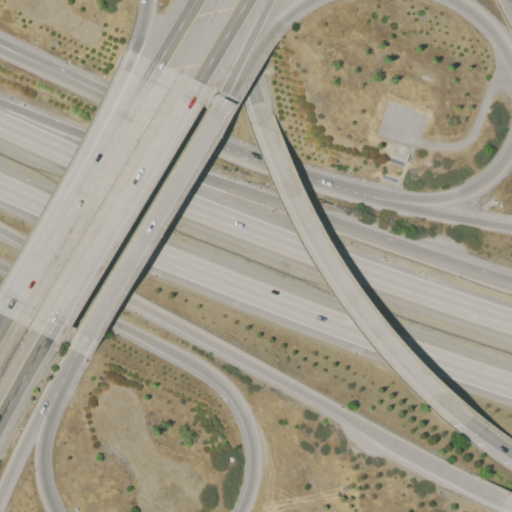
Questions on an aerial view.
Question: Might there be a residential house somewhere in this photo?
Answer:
No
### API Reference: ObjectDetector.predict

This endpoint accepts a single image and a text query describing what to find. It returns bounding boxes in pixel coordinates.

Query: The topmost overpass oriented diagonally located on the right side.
[246,80,512,472]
